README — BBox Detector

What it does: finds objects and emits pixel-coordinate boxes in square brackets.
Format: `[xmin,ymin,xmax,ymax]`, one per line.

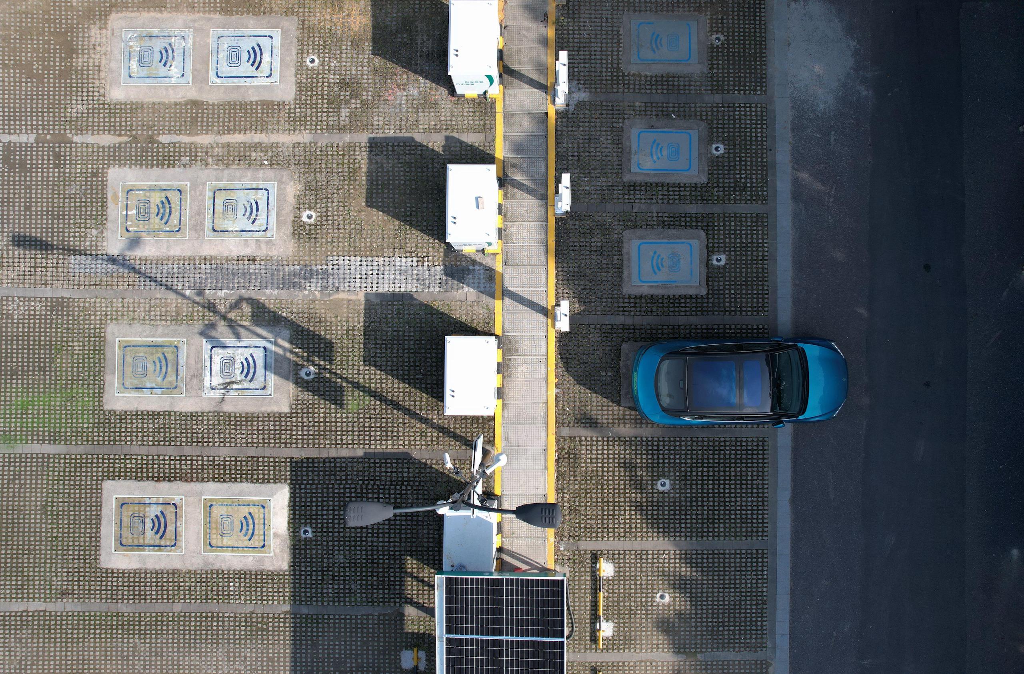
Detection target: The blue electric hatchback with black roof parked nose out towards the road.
[630,337,850,427]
